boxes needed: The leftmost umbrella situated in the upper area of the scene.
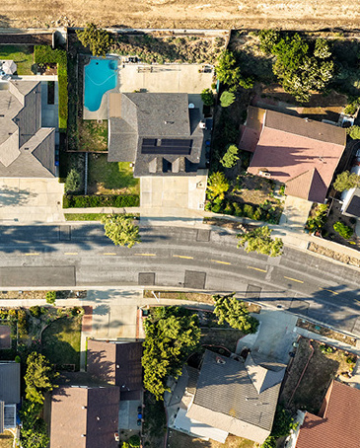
[2,59,18,75]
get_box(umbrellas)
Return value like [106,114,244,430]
[2,59,18,75]
[28,63,39,73]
